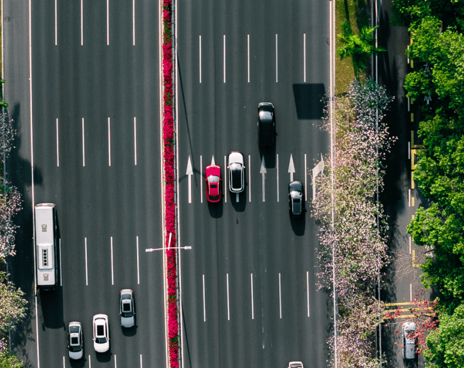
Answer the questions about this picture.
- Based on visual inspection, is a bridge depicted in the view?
No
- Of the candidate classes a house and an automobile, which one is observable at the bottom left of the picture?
automobile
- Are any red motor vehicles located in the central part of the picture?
Yes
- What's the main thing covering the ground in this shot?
paved ground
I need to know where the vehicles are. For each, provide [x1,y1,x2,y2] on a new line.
[226,151,245,192]
[257,102,275,145]
[205,164,222,203]
[67,319,85,360]
[286,360,305,368]
[287,180,303,217]
[33,199,58,291]
[401,319,419,360]
[118,288,136,327]
[92,313,110,352]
